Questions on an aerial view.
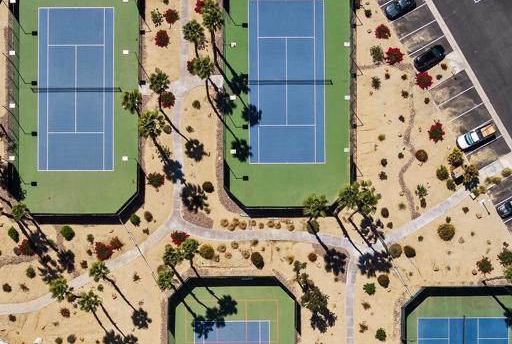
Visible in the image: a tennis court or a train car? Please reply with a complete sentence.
Of the two, only a tennis court appears.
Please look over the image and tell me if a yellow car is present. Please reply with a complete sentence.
No, I can't see a single yellow car in this photo.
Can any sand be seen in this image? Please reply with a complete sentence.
Yes, there is sand in the image.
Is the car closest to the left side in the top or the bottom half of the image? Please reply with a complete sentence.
The car closest to the left side is in the top half of the image.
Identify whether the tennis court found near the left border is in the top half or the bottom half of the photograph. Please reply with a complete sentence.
The top half of the photo is where the tennis court found near the left border is.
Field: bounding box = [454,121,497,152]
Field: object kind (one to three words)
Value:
truck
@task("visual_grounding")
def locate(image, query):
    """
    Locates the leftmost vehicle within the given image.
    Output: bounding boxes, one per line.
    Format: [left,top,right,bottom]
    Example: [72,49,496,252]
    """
[383,0,417,20]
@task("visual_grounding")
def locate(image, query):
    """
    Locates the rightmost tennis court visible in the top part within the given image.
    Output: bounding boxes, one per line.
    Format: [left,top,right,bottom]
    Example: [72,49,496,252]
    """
[226,0,350,206]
